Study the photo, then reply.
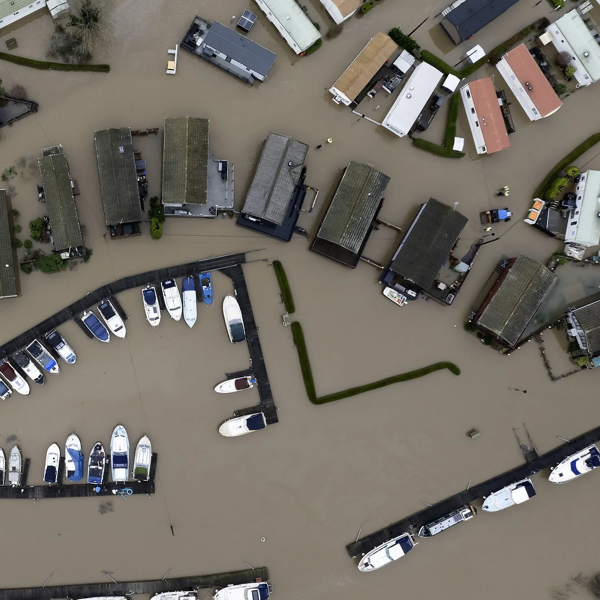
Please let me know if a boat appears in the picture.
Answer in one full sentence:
Yes, this view includes a boat.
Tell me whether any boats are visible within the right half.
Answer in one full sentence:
Yes, the scene does show a boat within the right half.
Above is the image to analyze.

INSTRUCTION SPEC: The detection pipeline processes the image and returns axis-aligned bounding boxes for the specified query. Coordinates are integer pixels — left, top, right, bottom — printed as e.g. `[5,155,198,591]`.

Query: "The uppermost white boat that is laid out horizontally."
[215,374,255,392]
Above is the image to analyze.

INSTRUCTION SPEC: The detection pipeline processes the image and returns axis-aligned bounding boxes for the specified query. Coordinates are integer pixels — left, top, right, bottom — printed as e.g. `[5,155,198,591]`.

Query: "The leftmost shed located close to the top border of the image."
[44,0,69,23]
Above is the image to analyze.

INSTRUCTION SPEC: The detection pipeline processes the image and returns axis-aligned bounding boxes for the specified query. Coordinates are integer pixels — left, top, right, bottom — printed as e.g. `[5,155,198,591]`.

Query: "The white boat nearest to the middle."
[222,293,245,342]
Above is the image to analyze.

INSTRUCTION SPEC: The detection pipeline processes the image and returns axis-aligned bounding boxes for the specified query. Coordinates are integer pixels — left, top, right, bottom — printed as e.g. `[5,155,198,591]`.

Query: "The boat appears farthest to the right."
[549,448,600,483]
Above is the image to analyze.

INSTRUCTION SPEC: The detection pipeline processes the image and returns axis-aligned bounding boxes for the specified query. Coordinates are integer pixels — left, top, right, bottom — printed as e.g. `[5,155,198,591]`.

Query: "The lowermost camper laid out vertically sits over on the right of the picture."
[566,170,600,244]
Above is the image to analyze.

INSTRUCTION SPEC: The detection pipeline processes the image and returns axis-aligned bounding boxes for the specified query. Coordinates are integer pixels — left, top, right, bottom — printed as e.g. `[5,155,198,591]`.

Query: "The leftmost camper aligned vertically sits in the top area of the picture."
[463,77,510,156]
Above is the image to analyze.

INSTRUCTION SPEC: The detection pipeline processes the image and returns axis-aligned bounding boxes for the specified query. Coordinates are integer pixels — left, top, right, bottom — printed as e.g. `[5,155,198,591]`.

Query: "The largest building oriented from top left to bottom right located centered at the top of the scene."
[203,20,277,81]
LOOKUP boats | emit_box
[211,580,274,600]
[215,374,255,392]
[82,310,109,342]
[0,448,6,485]
[219,410,269,435]
[15,350,45,384]
[481,478,535,511]
[65,433,84,485]
[43,443,60,486]
[549,448,600,483]
[181,279,196,328]
[143,285,160,326]
[222,293,245,342]
[359,530,419,570]
[162,279,183,320]
[45,330,74,363]
[199,273,214,305]
[111,425,129,485]
[294,227,307,235]
[415,505,477,537]
[0,374,13,398]
[133,435,152,484]
[98,298,125,338]
[88,443,105,484]
[0,359,28,394]
[151,590,197,600]
[27,340,59,374]
[384,287,408,306]
[7,446,23,488]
